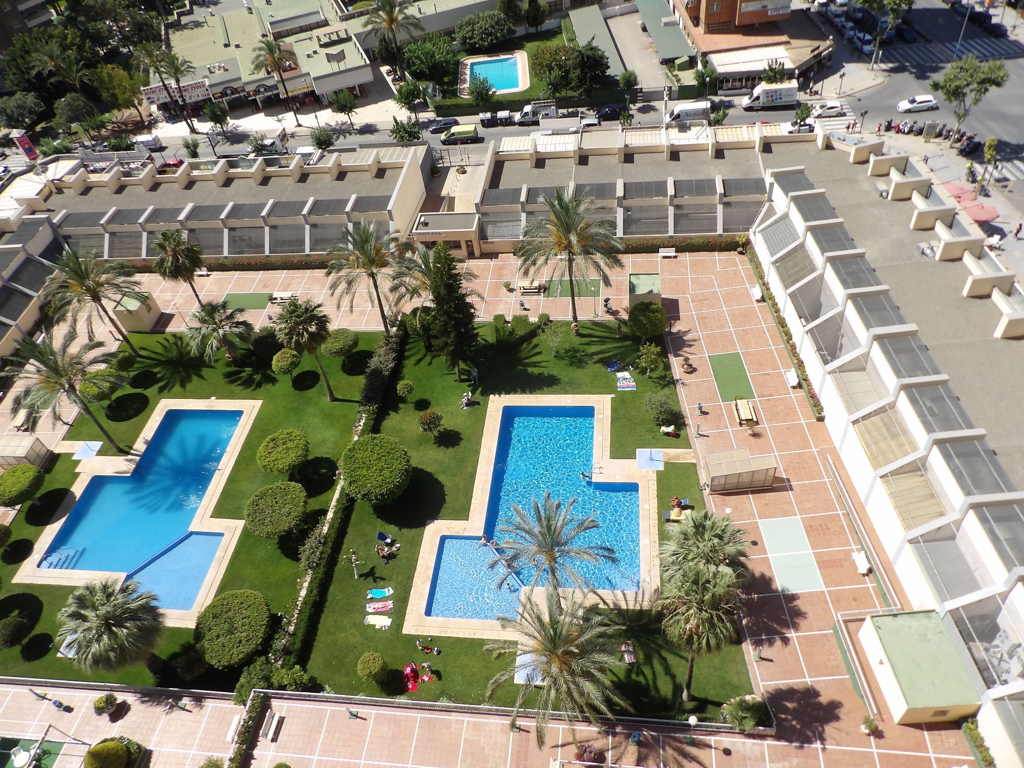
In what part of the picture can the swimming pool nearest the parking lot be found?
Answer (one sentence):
The swimming pool nearest the parking lot is in the top part of the image.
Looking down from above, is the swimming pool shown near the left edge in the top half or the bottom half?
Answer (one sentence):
The swimming pool shown near the left edge sits in the bottom half of the picture.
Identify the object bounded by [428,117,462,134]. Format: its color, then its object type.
gray car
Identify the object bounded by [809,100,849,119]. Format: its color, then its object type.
white car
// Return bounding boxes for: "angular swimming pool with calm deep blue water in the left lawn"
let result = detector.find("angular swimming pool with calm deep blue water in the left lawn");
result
[12,399,262,626]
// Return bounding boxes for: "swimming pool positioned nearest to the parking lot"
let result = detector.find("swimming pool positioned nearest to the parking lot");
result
[461,51,529,93]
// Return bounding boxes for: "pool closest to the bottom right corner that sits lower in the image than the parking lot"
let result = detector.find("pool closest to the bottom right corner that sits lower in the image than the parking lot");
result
[402,394,660,650]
